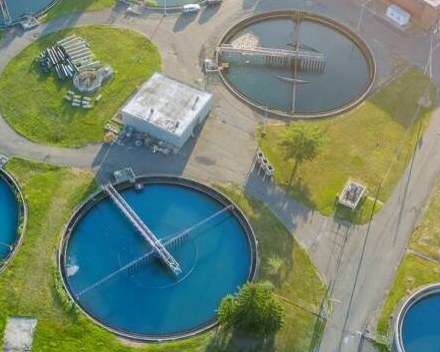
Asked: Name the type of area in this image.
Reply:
industrial area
